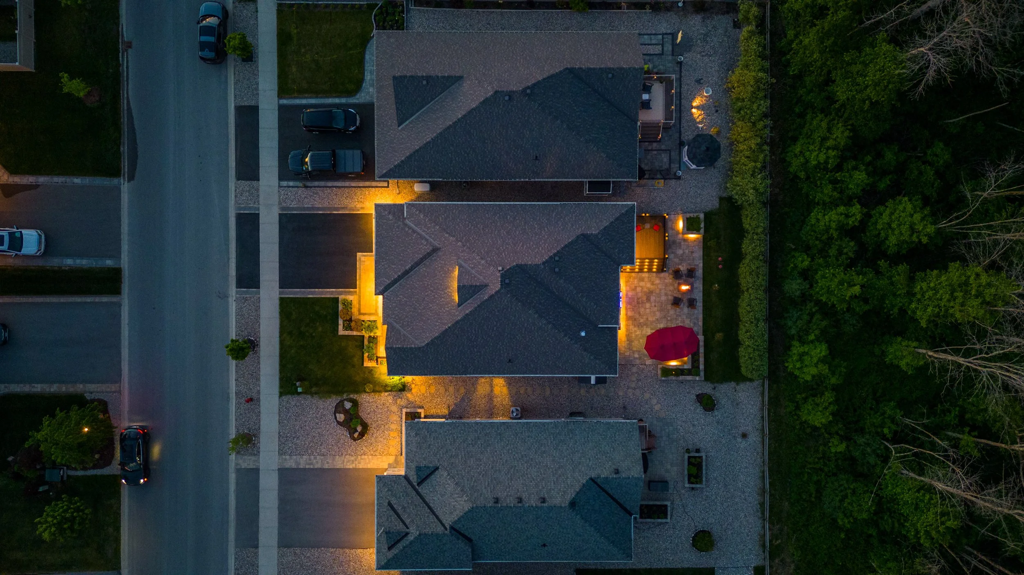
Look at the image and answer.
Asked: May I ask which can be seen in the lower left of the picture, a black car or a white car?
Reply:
black car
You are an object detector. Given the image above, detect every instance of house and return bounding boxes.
[373,29,645,182]
[374,419,645,572]
[373,202,637,384]
[0,0,34,73]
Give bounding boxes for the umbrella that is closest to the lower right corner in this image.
[644,326,699,362]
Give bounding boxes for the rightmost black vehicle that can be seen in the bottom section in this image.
[117,426,150,487]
